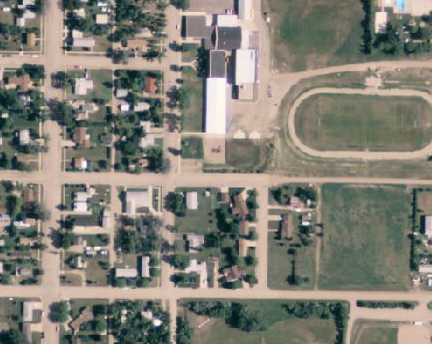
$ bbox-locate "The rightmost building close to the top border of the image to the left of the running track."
[186,0,254,133]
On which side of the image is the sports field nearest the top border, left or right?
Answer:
right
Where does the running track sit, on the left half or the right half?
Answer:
right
